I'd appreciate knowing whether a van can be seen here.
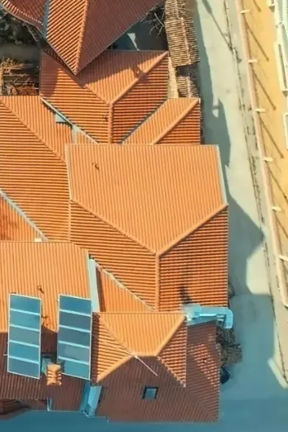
No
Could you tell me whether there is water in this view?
No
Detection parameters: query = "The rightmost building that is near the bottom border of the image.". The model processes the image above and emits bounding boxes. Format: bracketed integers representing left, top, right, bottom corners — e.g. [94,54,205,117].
[83,310,221,424]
